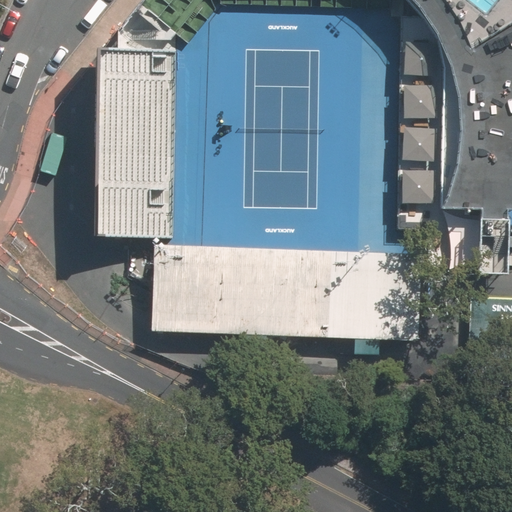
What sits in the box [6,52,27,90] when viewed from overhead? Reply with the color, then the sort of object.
white truck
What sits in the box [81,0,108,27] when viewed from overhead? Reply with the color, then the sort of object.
white vehicle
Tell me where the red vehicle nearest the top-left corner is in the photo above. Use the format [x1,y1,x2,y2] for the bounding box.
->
[1,10,20,38]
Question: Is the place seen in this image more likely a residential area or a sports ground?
sports ground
